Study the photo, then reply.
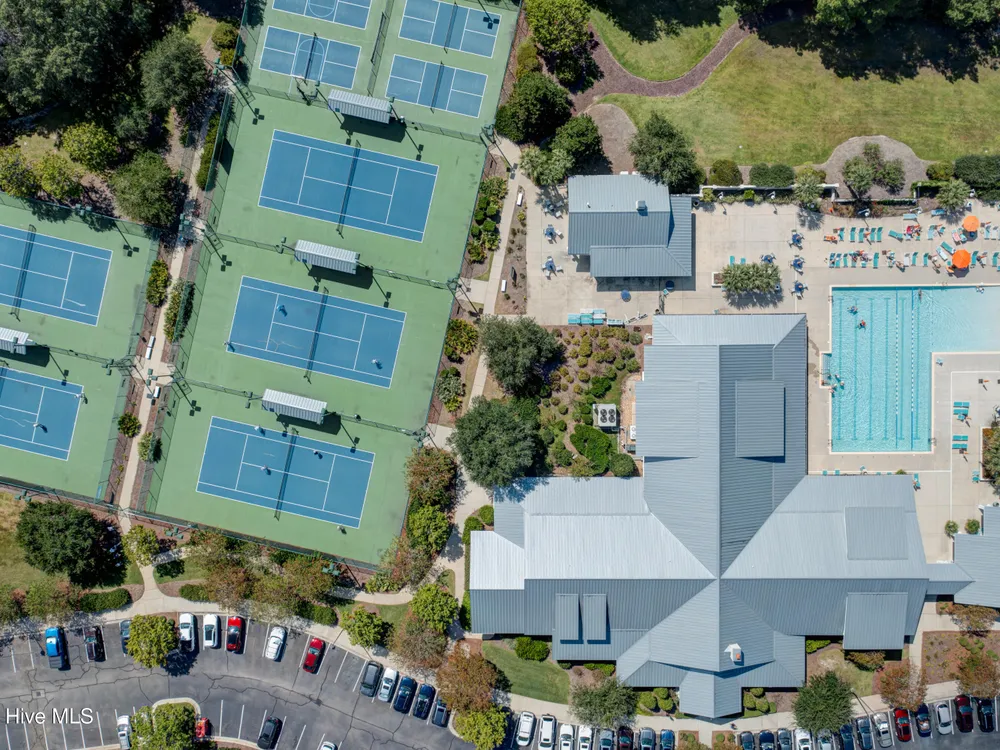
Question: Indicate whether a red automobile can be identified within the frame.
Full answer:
Yes, the frame does contain a red automobile.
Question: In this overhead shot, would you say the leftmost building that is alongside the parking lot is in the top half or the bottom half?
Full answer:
It is in the bottom half that the leftmost building that is alongside the parking lot appears.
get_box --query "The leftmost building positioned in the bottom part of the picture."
[471,314,929,719]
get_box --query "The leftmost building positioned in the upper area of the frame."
[569,164,691,276]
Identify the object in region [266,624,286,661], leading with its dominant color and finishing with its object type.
white car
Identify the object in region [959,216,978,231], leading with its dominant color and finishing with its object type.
orange umbrella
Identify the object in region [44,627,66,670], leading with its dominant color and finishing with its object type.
blue vehicle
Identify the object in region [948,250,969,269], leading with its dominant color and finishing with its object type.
orange umbrella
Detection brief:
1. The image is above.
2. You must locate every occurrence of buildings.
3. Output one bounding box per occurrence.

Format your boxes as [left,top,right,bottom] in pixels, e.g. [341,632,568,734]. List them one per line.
[569,164,691,276]
[471,314,929,719]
